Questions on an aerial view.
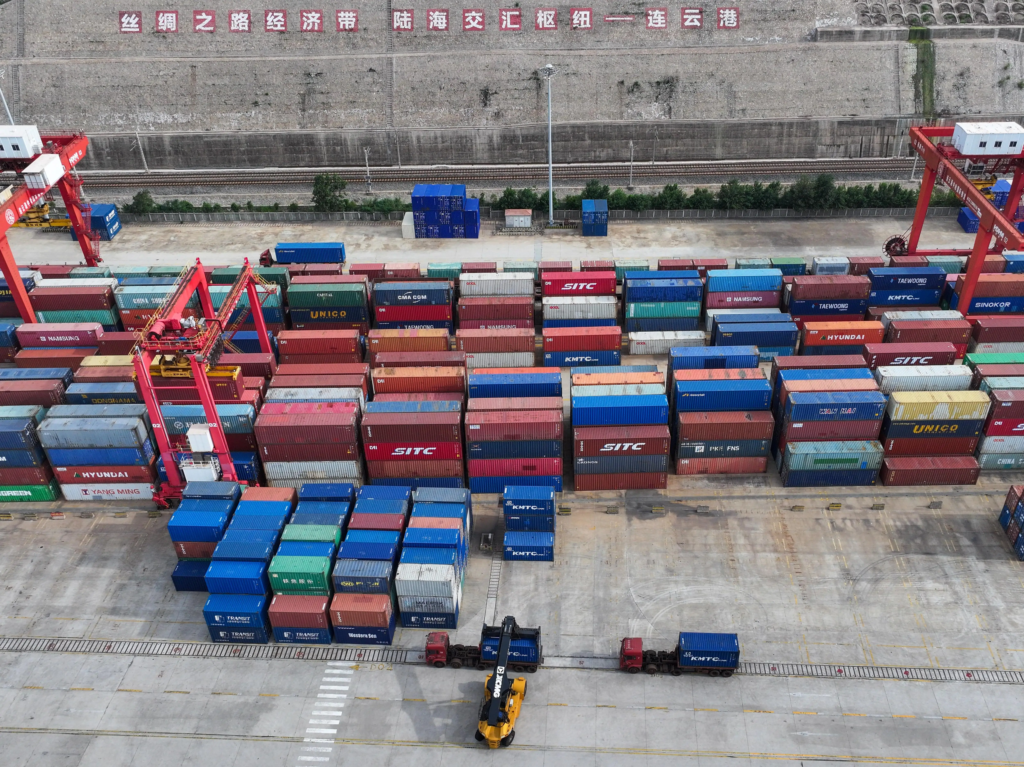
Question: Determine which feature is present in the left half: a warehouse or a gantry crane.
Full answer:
You can see a gantry crane in the left half.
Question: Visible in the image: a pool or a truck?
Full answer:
Visible in the photo is a truck.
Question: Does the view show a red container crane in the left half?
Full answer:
Yes, a red container crane is visible in the left half.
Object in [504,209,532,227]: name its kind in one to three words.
shed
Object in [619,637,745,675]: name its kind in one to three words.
truck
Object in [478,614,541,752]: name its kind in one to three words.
work vehicle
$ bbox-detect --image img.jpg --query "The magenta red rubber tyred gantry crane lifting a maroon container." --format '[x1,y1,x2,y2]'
[124,257,296,509]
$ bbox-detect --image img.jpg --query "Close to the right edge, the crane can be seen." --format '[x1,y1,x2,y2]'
[885,117,1024,325]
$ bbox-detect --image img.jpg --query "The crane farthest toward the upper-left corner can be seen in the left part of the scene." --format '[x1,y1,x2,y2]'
[0,127,109,349]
